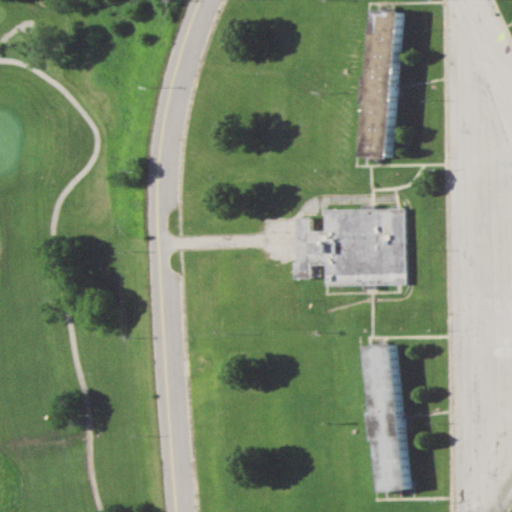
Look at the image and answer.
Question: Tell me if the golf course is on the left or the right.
left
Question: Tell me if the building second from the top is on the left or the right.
right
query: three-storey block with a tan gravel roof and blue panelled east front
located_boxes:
[357,12,403,160]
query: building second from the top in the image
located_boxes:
[293,208,408,290]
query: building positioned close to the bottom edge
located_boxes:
[361,344,412,492]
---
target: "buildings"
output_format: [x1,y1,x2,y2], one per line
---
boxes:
[293,208,408,290]
[361,344,412,492]
[357,12,403,160]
